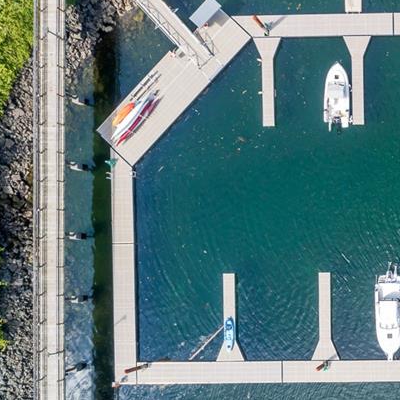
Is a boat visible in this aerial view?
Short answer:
Yes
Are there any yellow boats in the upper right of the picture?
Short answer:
No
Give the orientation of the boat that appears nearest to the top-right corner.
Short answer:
from top to bottom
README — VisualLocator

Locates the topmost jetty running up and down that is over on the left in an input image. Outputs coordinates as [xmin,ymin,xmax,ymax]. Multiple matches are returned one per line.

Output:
[111,152,137,244]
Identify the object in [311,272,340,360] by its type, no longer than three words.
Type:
pier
